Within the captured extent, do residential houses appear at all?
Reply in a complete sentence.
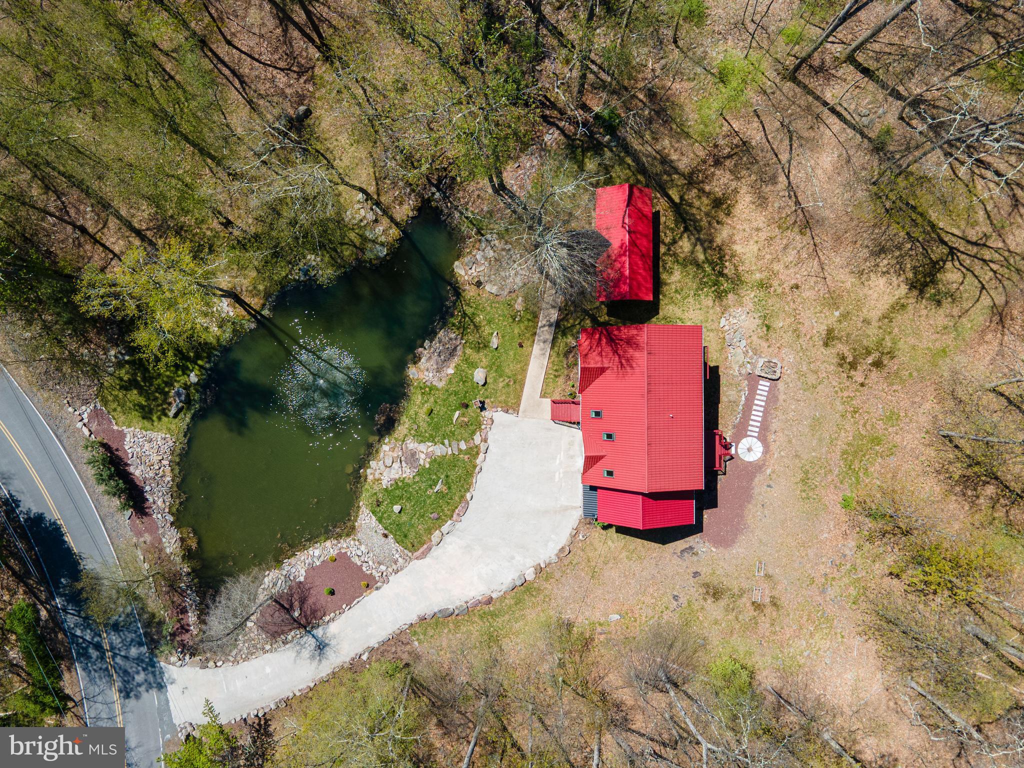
Yes, the picture does show a residential house.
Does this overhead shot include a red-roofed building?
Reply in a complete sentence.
Yes, a red-roofed building appears in the view.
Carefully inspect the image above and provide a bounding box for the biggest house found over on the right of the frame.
[550,324,735,529]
